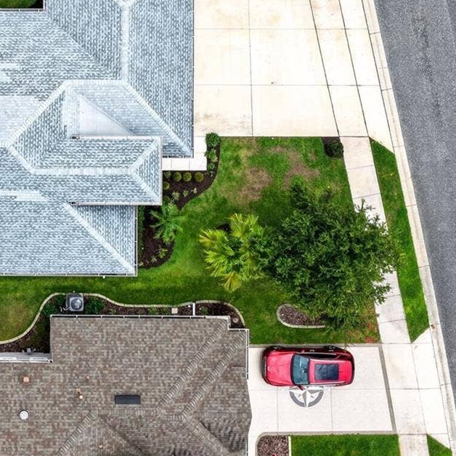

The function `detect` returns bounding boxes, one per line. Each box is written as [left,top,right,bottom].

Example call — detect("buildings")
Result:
[0,0,197,278]
[0,302,252,456]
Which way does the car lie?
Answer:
horizontally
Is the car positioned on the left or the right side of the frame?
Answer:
right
